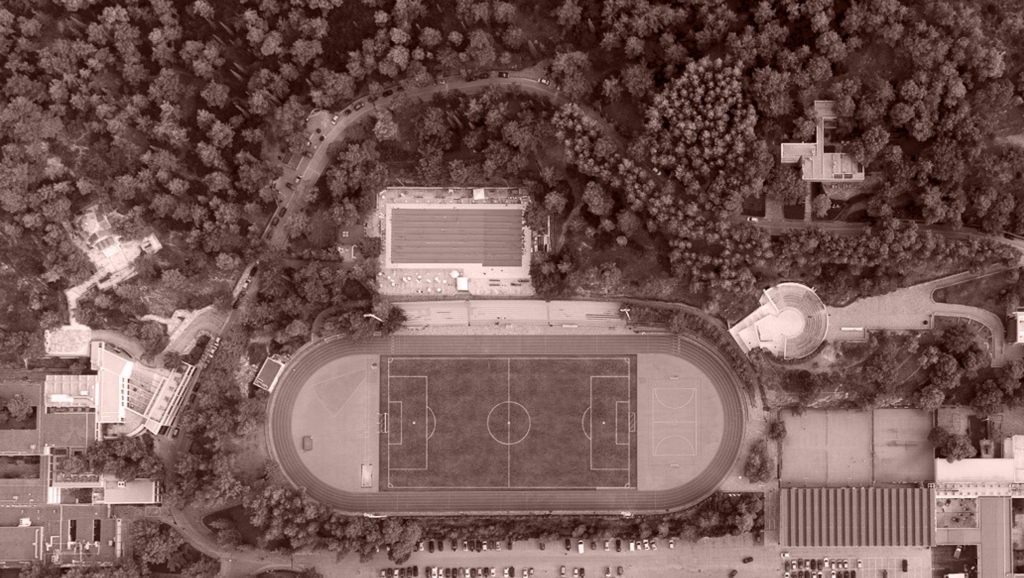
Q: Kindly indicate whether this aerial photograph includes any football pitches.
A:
Yes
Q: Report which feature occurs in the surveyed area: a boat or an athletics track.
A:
athletics track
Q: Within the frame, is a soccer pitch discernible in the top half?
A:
No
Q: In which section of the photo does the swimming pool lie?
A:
center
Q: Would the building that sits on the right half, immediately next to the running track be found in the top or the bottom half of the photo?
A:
bottom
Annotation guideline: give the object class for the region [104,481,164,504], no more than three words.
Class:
building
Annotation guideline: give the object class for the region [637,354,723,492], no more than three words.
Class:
sports court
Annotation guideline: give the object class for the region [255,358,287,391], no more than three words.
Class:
building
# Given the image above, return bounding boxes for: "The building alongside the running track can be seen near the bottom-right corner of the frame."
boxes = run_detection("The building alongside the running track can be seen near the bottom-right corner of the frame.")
[779,484,935,547]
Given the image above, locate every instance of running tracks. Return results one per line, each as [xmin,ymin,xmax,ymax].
[266,329,749,518]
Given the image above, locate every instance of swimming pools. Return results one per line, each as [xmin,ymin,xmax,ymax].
[386,204,531,278]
